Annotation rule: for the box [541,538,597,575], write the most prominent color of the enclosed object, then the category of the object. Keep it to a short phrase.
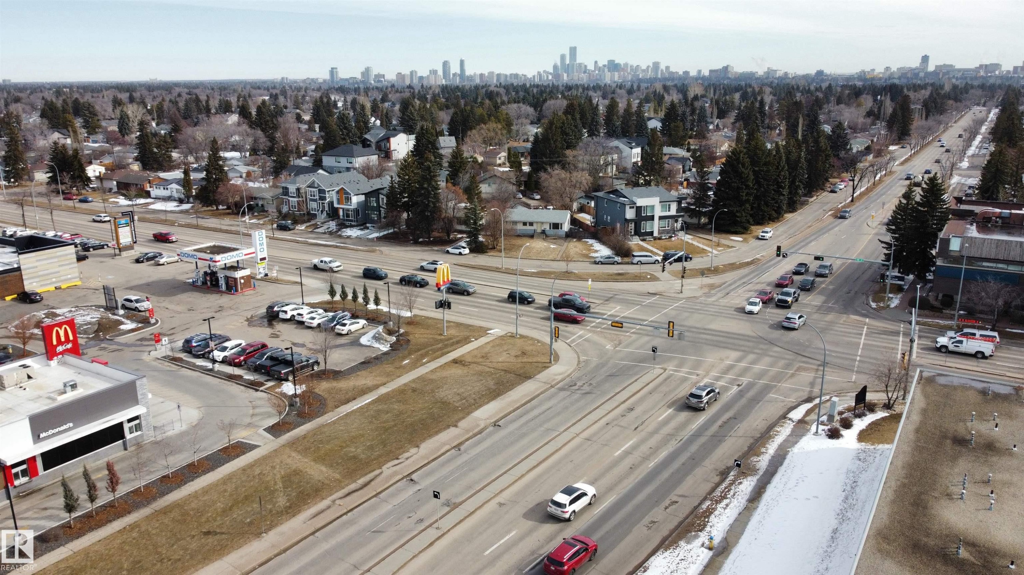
red car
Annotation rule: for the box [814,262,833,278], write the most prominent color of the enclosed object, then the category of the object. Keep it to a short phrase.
gray car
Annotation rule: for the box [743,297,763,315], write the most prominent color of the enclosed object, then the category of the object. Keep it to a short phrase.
white car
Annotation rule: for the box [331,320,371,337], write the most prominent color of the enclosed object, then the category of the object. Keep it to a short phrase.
white car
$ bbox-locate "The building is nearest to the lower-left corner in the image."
[0,354,157,504]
